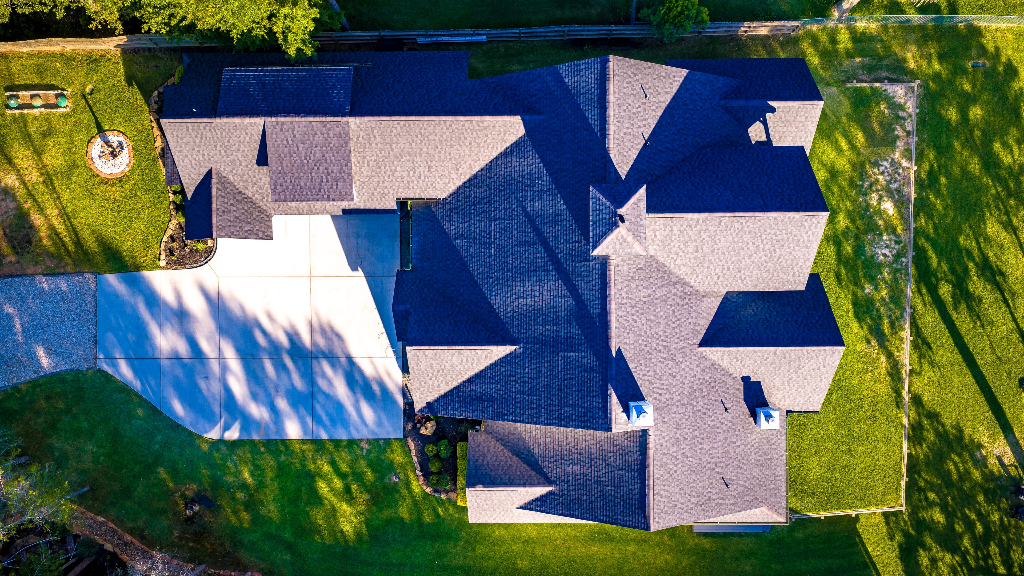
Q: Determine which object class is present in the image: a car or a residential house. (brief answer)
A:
residential house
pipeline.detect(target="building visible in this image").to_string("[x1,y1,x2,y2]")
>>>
[156,51,845,532]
